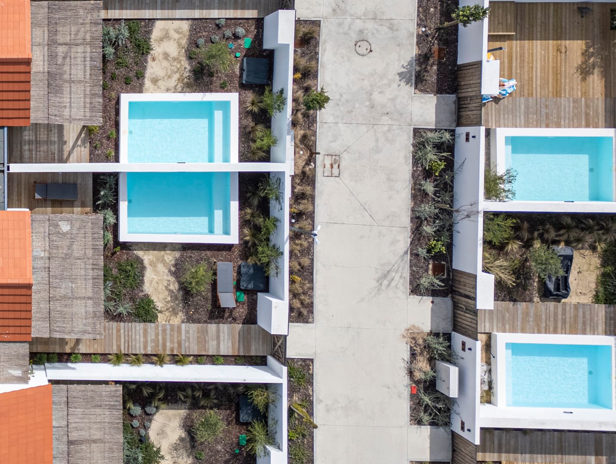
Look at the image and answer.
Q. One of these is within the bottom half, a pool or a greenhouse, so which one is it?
pool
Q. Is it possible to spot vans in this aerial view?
No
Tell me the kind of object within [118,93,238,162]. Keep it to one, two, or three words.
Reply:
swimming pool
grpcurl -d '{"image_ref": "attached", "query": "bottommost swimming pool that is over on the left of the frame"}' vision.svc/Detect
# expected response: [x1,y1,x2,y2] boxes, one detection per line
[118,171,238,243]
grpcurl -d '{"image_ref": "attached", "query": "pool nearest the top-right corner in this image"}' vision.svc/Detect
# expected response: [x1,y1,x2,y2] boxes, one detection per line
[490,128,616,200]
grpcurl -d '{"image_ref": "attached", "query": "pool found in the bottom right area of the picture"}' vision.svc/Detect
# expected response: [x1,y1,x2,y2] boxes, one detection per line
[490,333,615,411]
